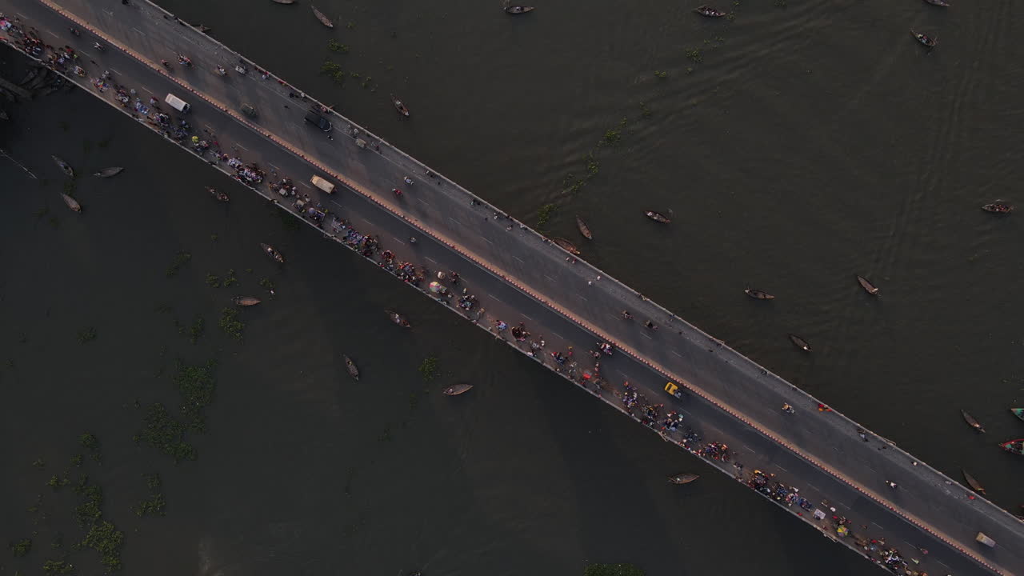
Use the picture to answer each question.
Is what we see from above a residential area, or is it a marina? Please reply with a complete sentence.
The picture captures a marina.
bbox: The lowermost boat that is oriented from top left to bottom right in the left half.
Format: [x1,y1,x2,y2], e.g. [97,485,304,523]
[342,355,359,382]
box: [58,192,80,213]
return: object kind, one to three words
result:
boat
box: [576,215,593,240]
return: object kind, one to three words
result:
boat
